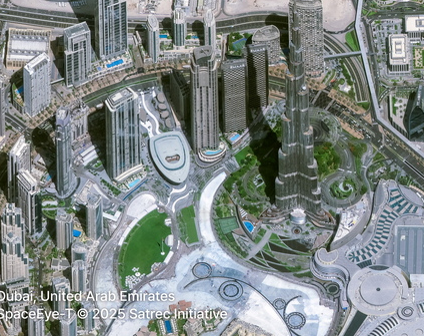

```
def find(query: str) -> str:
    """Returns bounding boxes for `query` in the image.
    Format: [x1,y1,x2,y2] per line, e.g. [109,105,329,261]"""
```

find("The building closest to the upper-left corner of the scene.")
[8,27,51,70]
